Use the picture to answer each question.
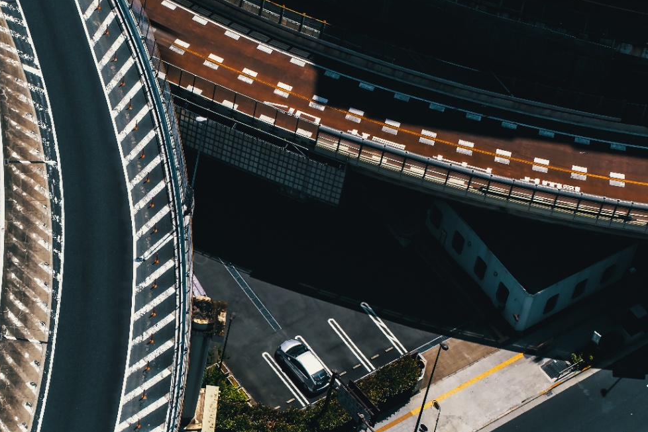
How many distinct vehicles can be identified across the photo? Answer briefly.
1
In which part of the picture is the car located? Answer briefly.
bottom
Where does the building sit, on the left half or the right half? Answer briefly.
right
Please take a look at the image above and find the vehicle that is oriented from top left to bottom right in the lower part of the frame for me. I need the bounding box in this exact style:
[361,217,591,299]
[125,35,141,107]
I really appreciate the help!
[280,339,327,394]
